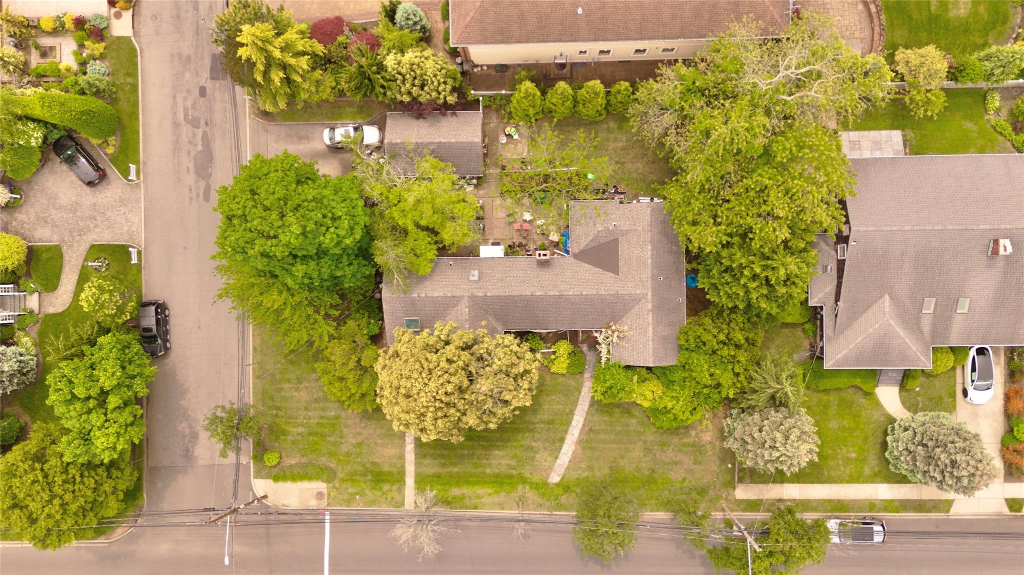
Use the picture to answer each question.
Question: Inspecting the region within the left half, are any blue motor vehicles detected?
No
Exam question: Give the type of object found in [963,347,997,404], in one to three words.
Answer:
car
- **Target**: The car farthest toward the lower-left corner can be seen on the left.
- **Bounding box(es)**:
[140,300,172,356]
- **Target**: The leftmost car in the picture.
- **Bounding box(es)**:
[53,134,106,191]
